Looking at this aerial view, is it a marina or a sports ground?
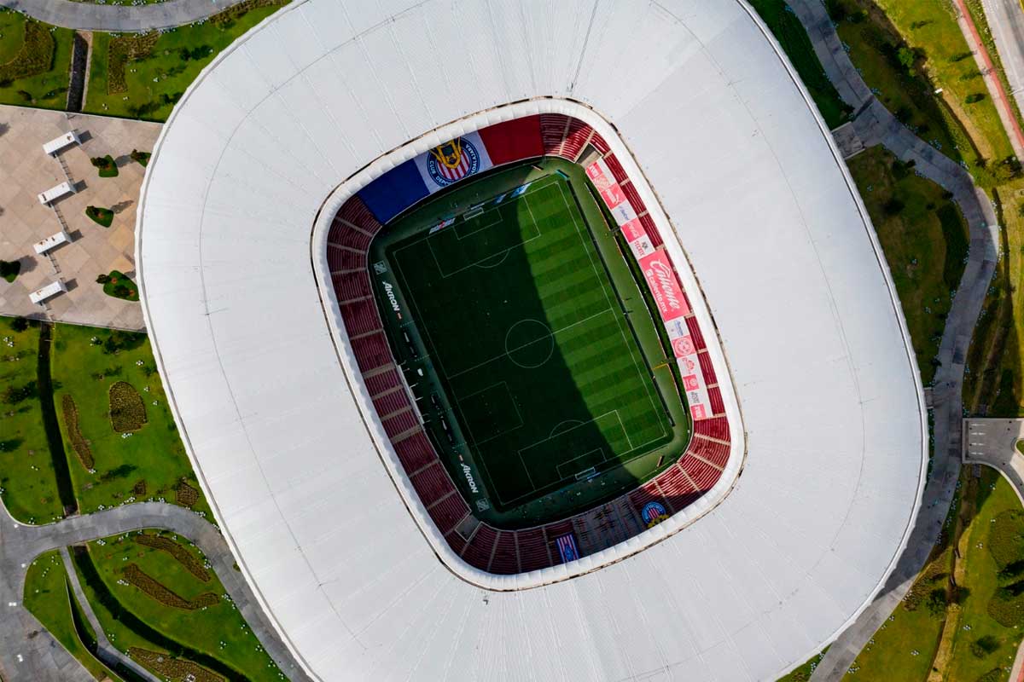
sports ground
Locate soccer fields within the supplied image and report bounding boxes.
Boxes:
[373,165,686,521]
